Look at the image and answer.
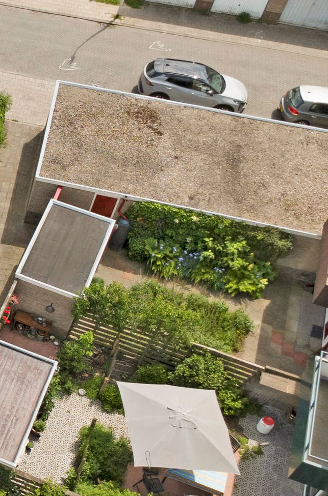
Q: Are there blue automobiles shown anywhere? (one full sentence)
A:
No, there is no blue automobile in the image.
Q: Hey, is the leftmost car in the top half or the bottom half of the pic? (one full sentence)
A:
It is in the top half that the leftmost car appears.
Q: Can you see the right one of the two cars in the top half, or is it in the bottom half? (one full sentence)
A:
You can find the right one of the two cars in the top half.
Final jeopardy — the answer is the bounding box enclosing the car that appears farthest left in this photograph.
[136,55,248,115]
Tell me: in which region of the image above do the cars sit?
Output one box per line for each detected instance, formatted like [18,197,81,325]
[276,83,328,132]
[136,55,248,115]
